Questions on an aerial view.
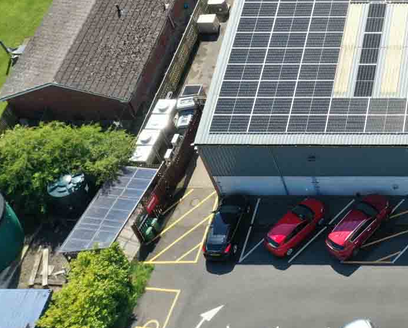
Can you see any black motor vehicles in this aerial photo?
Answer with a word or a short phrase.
Yes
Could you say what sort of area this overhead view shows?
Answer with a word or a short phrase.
industrial area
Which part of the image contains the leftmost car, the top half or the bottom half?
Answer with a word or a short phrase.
bottom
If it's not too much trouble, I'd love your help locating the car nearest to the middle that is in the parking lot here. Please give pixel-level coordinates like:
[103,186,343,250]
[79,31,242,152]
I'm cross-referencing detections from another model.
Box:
[202,187,257,259]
